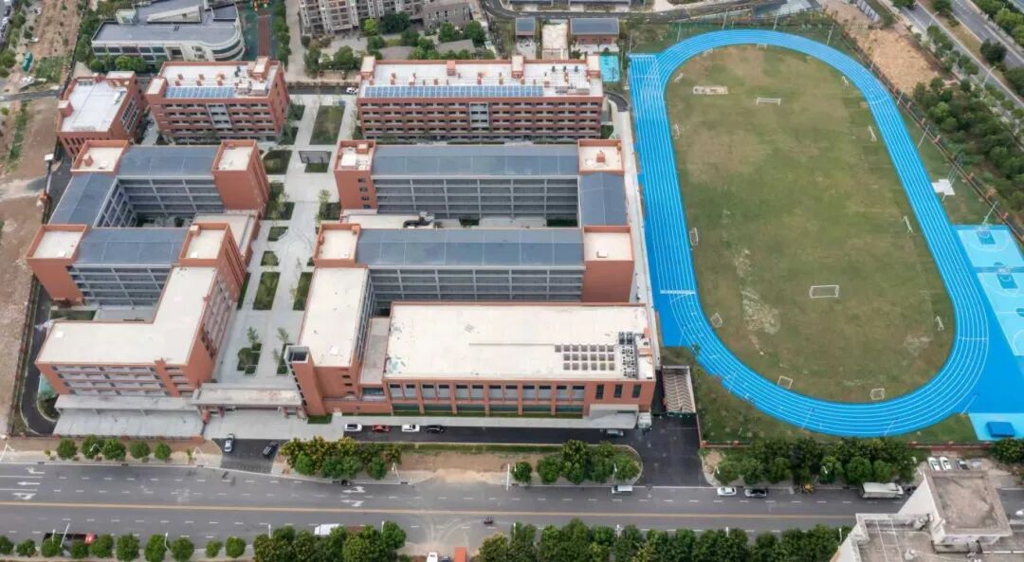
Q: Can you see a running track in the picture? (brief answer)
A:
Yes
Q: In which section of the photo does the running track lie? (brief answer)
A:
right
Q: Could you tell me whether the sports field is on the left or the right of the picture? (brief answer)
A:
right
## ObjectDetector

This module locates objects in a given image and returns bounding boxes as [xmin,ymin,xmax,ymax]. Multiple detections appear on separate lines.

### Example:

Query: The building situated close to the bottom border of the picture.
[835,472,1024,562]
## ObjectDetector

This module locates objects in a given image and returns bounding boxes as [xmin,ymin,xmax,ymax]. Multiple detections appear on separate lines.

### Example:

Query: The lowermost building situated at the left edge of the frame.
[34,263,244,399]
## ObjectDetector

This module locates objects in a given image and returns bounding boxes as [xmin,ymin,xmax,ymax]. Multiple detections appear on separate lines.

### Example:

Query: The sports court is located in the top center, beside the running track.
[600,52,623,85]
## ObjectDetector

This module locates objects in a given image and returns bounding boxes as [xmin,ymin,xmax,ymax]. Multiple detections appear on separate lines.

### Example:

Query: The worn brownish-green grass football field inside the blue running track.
[666,43,956,402]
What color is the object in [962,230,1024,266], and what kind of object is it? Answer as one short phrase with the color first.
blue basketball court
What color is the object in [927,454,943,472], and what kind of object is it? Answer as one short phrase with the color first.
white car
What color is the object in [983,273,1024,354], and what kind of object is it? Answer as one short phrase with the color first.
blue basketball court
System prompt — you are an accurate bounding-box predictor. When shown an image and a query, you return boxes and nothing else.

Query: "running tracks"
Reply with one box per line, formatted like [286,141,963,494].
[628,29,994,435]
